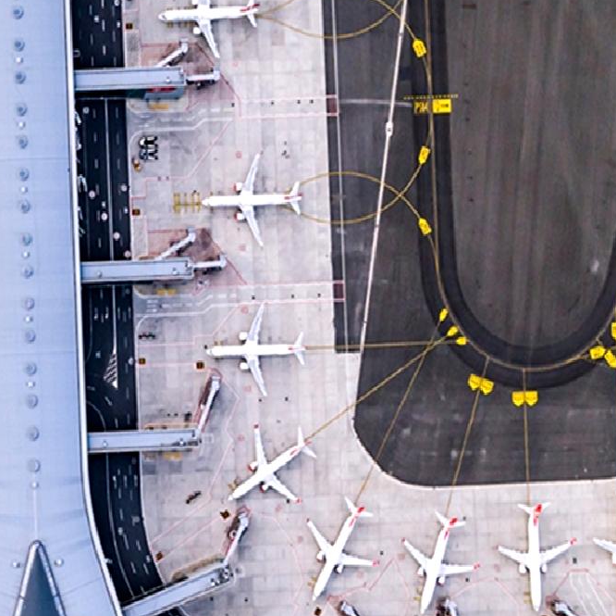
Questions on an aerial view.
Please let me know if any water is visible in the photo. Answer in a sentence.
No, there's no water in this view.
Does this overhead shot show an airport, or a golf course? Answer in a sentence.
The picture captures an airport.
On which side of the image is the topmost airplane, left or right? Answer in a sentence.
You can find the topmost airplane on the left side of the picture.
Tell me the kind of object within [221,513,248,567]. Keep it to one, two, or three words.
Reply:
jet bridge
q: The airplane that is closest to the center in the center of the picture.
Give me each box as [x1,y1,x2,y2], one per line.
[206,302,309,398]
